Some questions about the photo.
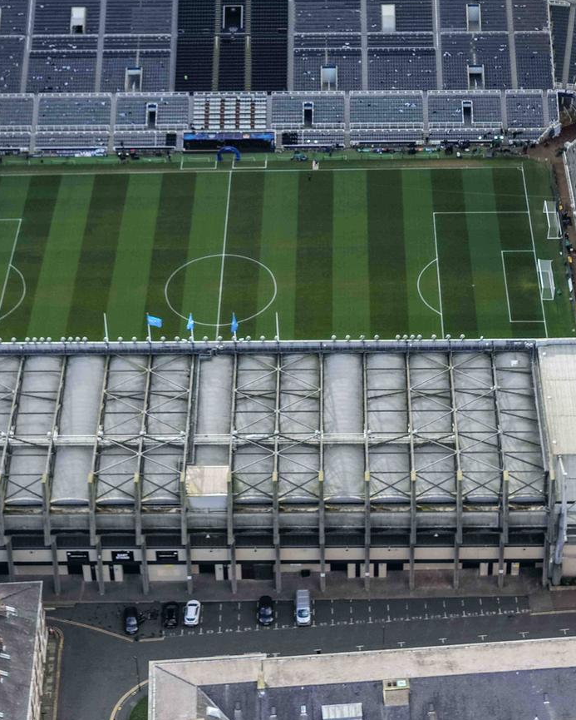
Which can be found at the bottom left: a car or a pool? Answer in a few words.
car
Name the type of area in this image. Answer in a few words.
sports ground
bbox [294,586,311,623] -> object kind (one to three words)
vehicle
